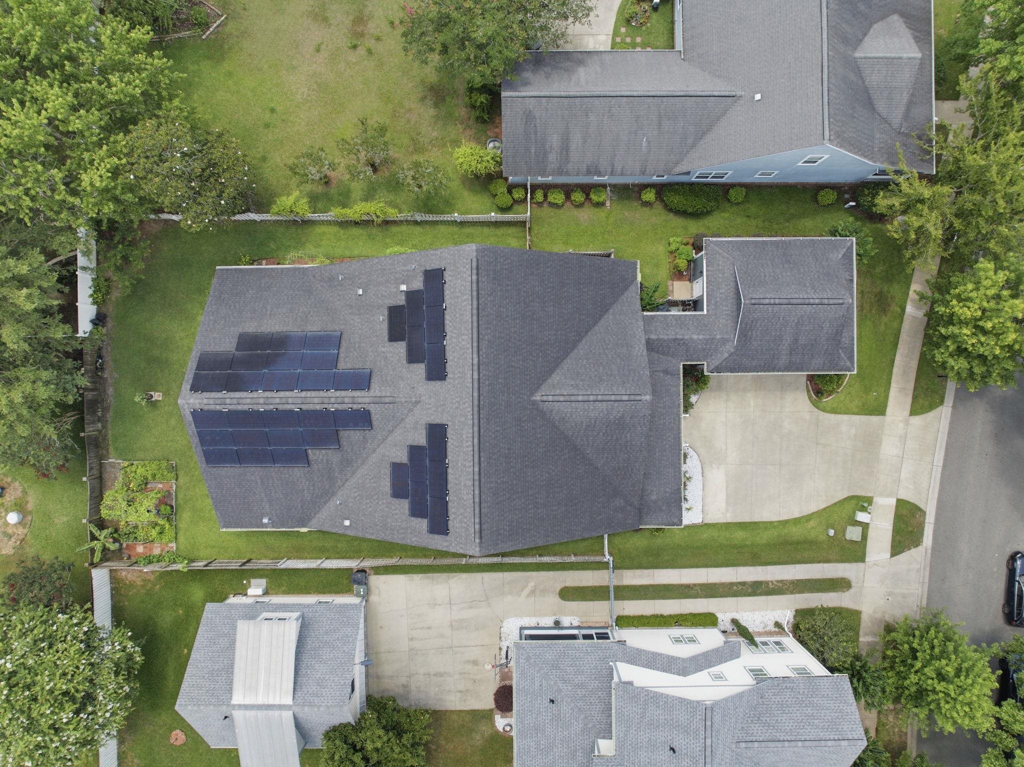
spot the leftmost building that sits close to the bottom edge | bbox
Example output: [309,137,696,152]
[175,594,368,767]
